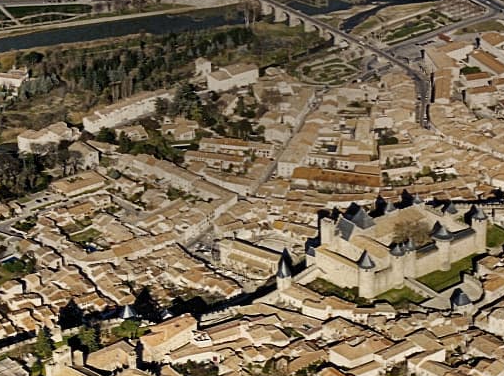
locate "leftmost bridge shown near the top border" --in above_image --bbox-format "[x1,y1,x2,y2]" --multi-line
[255,0,413,78]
